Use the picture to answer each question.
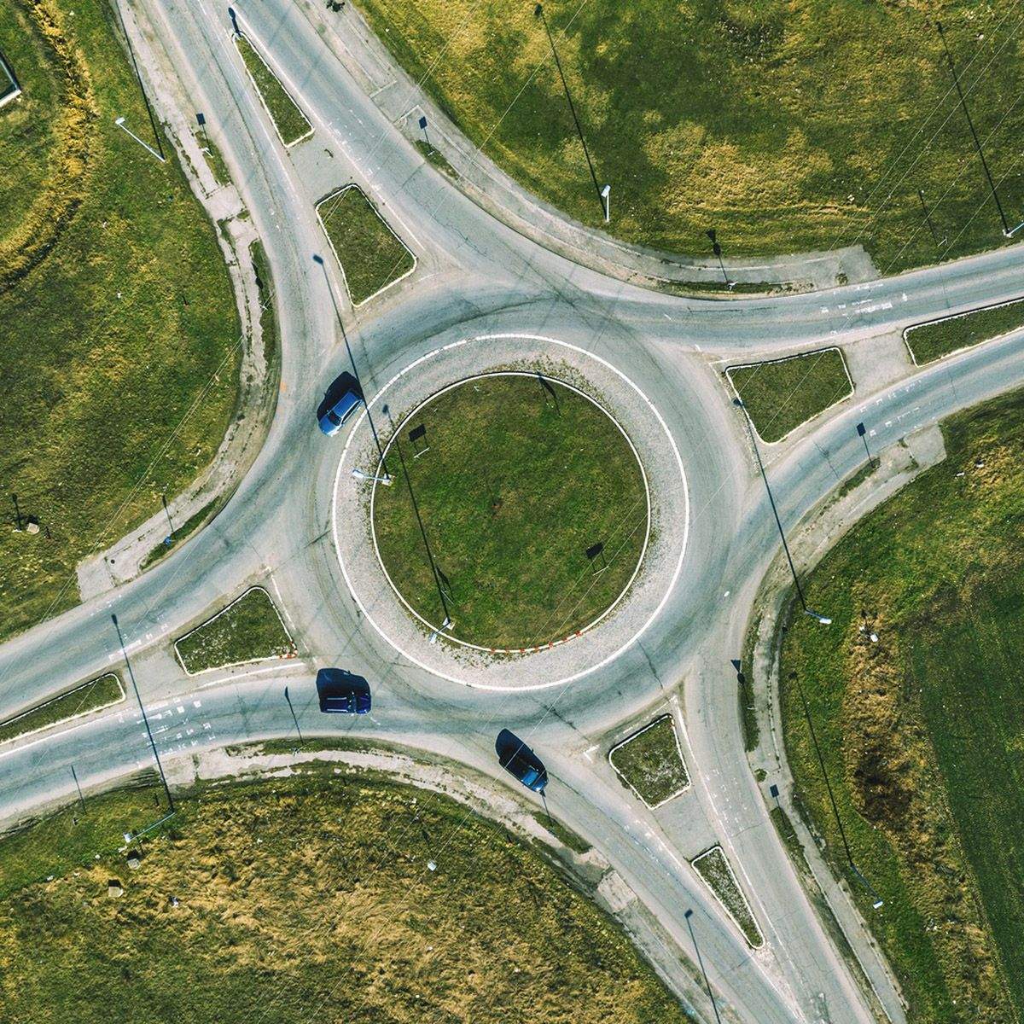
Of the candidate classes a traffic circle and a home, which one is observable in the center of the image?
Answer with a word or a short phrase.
traffic circle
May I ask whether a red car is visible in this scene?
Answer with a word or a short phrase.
No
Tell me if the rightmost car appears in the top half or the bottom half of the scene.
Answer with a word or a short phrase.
bottom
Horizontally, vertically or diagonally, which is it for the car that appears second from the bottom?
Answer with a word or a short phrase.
horizontally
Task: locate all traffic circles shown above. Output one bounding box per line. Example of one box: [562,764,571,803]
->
[251,252,770,772]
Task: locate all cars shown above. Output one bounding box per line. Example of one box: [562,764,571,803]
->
[320,385,368,433]
[318,690,372,717]
[498,747,547,790]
